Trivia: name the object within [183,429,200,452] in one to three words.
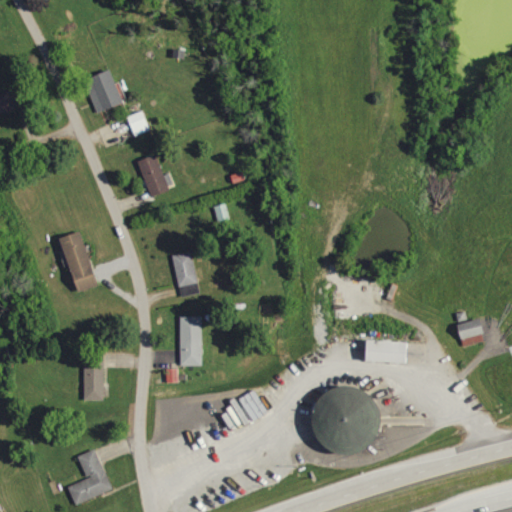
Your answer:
vehicle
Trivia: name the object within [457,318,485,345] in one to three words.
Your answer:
barn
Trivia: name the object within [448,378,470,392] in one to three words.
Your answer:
vehicle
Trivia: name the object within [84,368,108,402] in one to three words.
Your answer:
house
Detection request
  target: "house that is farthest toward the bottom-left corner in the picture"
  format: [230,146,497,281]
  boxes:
[68,446,112,504]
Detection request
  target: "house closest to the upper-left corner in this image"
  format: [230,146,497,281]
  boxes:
[87,70,123,112]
